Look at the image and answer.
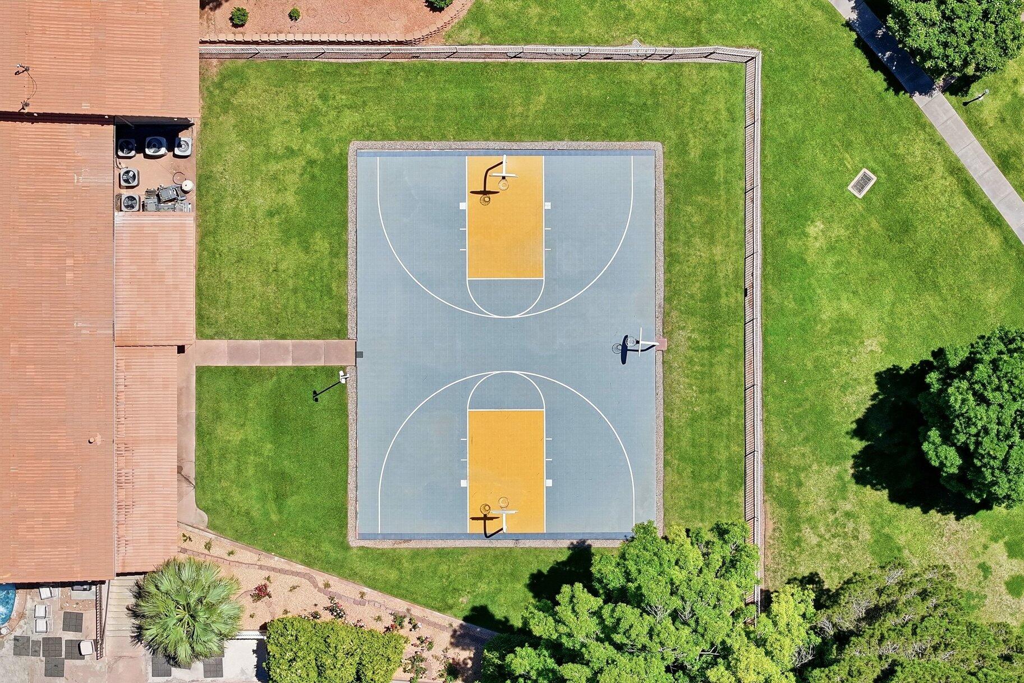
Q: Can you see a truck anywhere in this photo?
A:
No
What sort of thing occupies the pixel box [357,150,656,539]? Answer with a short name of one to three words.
sports court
